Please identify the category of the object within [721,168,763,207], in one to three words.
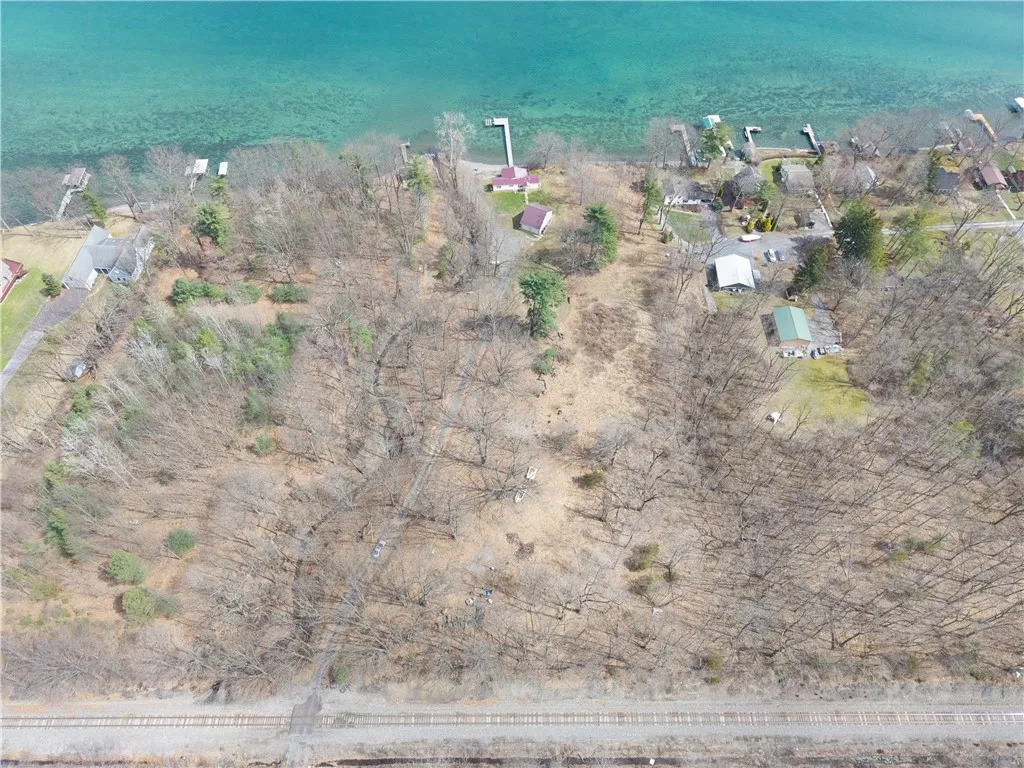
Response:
house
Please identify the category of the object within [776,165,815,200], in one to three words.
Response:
house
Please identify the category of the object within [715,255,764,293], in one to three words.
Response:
building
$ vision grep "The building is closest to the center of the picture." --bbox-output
[520,203,551,234]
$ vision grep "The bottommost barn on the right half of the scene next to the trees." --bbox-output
[769,304,811,348]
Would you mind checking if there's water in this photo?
Yes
